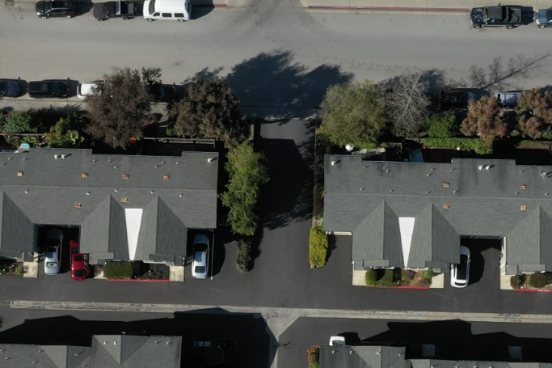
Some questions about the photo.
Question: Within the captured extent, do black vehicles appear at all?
Yes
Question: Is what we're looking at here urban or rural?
urban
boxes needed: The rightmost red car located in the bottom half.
[69,235,89,279]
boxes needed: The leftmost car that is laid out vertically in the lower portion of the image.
[42,230,63,277]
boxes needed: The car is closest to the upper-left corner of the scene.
[35,0,78,19]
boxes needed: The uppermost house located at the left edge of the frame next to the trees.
[0,147,218,270]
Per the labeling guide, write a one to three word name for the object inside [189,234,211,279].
car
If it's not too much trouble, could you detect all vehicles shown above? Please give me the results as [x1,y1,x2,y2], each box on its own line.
[436,88,487,110]
[450,246,472,289]
[0,77,26,98]
[28,77,71,99]
[533,5,552,29]
[492,89,532,110]
[77,78,104,99]
[189,234,211,279]
[69,235,89,279]
[93,0,139,20]
[327,332,347,344]
[142,0,192,22]
[469,4,523,28]
[42,230,63,277]
[35,0,78,19]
